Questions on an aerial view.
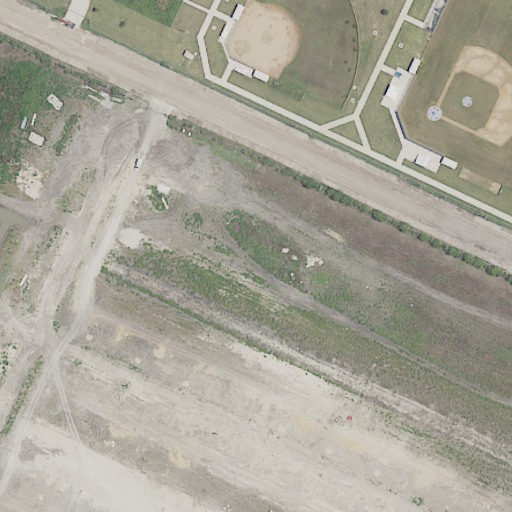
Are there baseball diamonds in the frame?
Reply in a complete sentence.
Yes, there's a baseball diamond here.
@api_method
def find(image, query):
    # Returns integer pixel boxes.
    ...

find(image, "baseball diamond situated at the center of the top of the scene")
[227,0,358,108]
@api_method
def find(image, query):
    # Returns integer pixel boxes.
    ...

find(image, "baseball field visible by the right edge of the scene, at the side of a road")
[398,0,512,194]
